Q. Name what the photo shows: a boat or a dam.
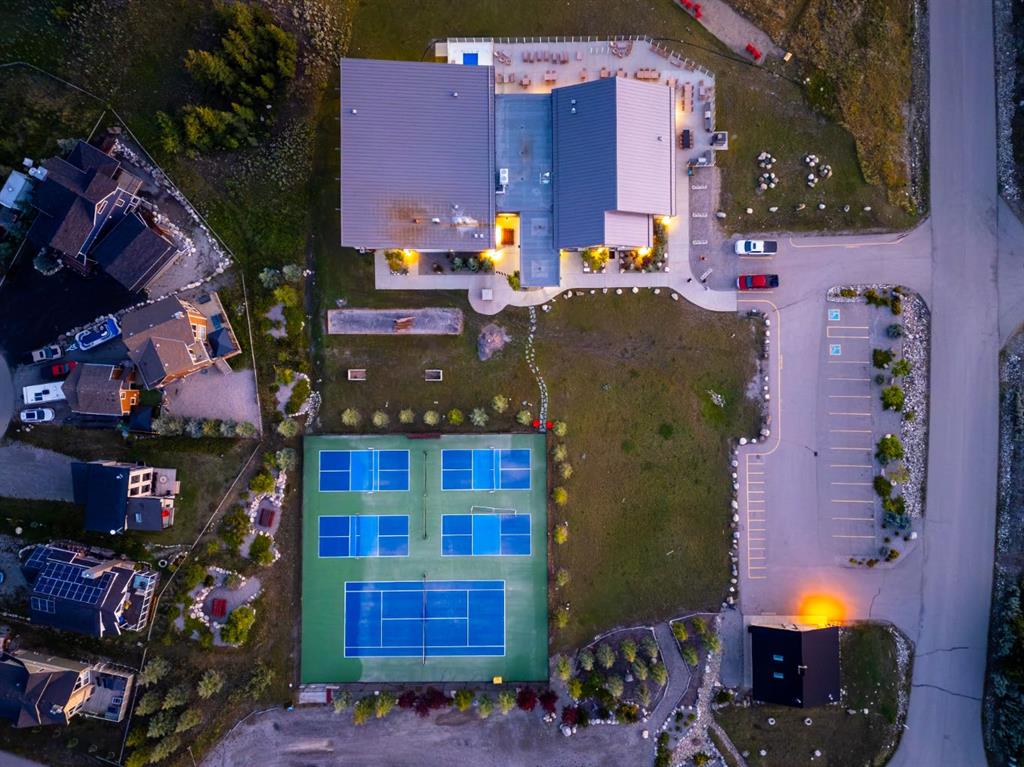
boat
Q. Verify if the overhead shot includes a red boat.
No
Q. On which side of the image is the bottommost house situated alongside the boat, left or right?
left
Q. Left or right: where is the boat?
left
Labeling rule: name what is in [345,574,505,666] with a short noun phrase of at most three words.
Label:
tennis court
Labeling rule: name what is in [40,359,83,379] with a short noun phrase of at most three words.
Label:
vehicle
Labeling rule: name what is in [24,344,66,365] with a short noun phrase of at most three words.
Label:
truck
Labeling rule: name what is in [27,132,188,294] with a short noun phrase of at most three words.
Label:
house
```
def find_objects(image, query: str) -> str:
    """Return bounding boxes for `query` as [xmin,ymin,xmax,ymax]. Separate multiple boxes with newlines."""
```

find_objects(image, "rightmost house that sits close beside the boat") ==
[122,291,242,389]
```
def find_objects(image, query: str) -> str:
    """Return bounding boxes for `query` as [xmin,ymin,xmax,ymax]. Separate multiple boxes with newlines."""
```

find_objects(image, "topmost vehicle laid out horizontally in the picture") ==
[734,239,776,256]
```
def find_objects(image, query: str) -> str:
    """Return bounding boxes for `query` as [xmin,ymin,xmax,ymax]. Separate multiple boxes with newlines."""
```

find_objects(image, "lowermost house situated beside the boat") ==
[62,364,141,416]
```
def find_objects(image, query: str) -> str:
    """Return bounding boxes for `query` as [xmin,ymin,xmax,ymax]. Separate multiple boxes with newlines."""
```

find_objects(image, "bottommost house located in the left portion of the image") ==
[0,643,137,730]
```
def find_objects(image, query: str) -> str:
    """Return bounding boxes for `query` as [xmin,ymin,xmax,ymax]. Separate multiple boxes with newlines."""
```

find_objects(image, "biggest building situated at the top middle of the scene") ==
[338,57,674,288]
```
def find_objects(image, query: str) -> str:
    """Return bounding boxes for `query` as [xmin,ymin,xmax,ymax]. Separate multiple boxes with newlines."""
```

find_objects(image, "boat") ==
[74,317,122,349]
